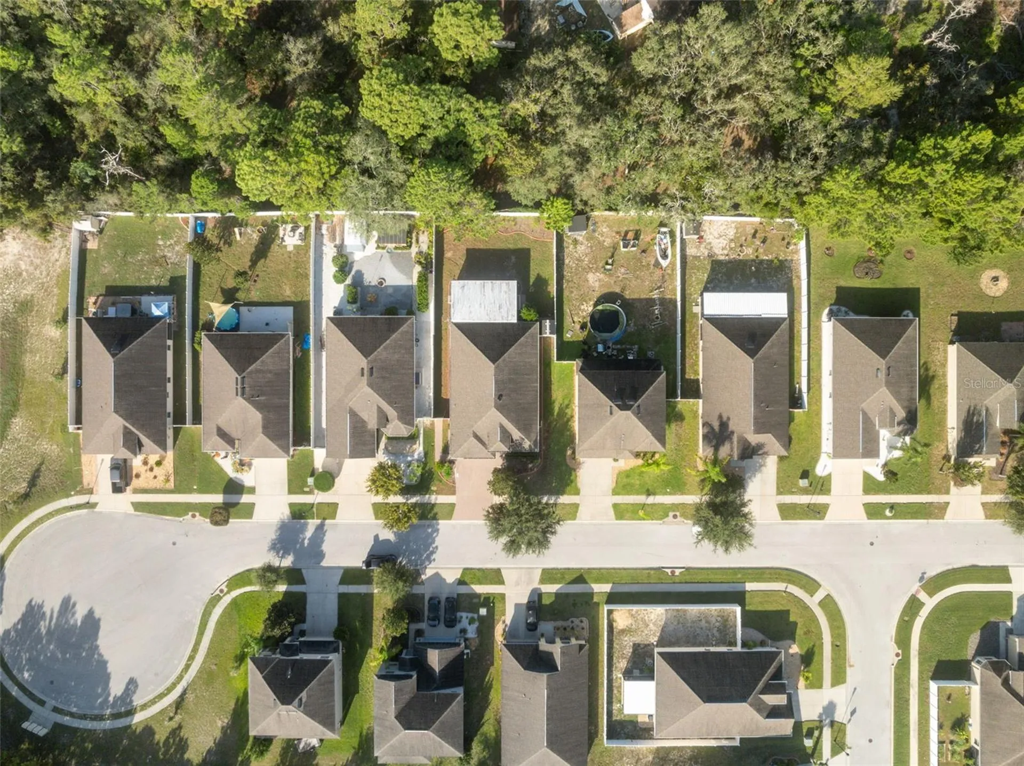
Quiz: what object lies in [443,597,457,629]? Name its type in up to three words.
car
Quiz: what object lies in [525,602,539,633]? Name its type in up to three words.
car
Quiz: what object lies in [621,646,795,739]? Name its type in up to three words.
house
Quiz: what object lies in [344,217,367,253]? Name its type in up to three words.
shed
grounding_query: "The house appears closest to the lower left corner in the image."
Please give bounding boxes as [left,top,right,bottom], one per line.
[248,635,343,739]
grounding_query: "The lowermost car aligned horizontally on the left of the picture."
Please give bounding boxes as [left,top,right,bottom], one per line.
[363,555,396,570]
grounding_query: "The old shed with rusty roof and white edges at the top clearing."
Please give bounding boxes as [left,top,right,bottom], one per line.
[605,0,660,42]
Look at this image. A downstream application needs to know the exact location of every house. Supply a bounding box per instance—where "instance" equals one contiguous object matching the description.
[574,359,666,460]
[326,316,415,459]
[699,292,789,461]
[450,281,539,459]
[81,317,176,460]
[202,333,295,458]
[621,646,795,739]
[374,638,465,764]
[248,635,343,739]
[501,633,588,766]
[968,632,1024,766]
[947,341,1024,458]
[826,318,919,459]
